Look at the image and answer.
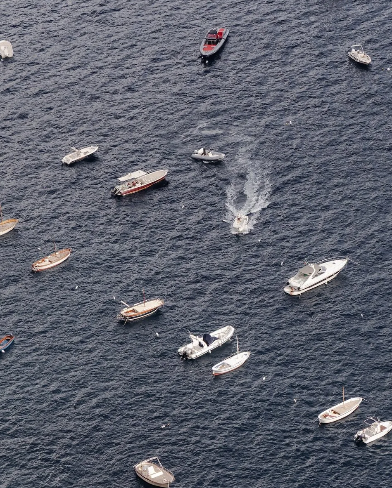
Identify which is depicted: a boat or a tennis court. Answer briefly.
boat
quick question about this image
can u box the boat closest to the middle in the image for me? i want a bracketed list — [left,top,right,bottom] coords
[233,213,248,231]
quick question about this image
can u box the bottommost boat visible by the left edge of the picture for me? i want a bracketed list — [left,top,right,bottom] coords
[0,334,16,352]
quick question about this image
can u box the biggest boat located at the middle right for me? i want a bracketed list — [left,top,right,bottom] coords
[281,254,358,299]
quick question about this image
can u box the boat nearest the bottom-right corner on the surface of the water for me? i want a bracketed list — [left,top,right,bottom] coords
[355,413,392,444]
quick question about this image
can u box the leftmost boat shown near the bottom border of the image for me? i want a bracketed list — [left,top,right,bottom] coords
[135,455,172,488]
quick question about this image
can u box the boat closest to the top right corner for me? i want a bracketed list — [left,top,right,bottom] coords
[347,43,371,64]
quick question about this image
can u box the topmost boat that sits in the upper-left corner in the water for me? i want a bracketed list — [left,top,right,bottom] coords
[0,40,13,56]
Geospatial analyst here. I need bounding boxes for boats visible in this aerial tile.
[212,343,254,377]
[233,213,248,231]
[30,238,72,273]
[0,203,22,236]
[60,146,101,166]
[135,455,172,488]
[0,40,13,56]
[120,288,165,327]
[281,254,358,299]
[0,334,16,352]
[347,43,371,64]
[188,149,225,159]
[314,385,369,425]
[355,413,392,444]
[112,168,167,196]
[175,326,239,361]
[202,26,230,59]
